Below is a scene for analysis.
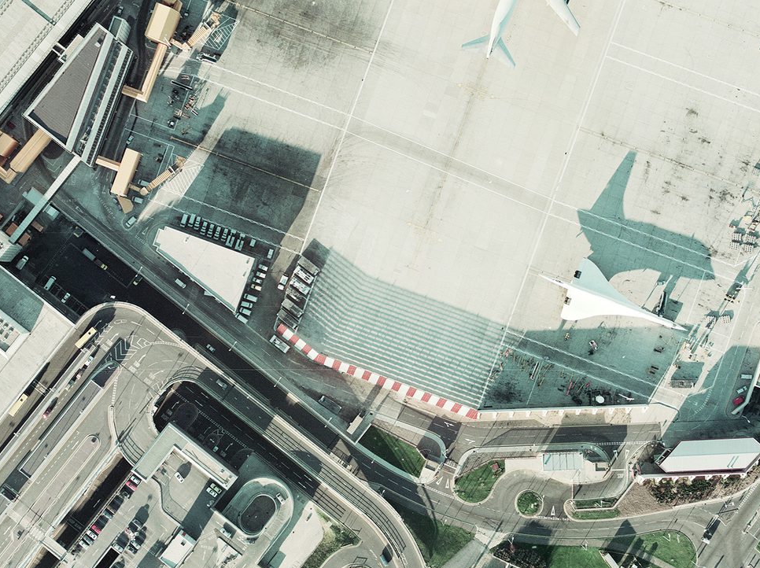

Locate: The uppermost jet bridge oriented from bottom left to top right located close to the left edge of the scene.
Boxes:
[10,130,54,173]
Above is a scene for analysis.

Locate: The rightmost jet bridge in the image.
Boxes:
[169,9,220,52]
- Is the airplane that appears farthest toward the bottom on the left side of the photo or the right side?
right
